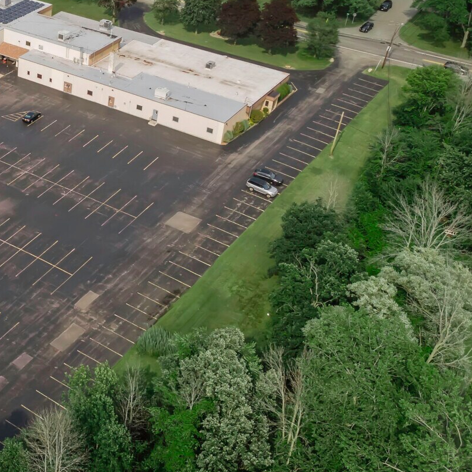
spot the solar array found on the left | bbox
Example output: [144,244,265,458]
[0,0,44,23]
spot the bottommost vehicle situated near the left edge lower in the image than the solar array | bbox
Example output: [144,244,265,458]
[19,107,40,123]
